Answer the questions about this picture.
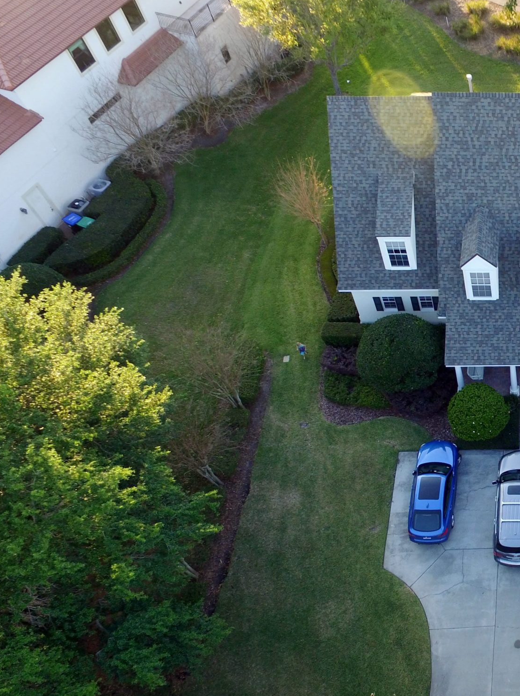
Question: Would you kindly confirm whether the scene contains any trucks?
No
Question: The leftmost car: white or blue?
blue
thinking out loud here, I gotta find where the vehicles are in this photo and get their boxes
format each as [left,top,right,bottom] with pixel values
[488,451,520,566]
[404,440,462,549]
